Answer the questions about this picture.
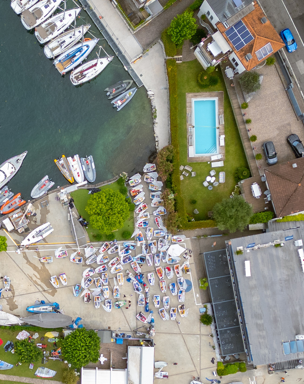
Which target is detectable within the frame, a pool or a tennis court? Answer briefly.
pool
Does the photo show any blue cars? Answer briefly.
Yes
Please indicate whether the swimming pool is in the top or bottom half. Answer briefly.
top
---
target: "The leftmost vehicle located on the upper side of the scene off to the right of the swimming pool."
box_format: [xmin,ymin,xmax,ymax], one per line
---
[262,139,278,166]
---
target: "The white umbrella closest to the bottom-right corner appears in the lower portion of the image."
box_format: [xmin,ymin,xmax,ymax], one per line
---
[168,245,186,257]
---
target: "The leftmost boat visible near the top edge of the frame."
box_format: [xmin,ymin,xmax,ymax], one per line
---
[8,0,37,20]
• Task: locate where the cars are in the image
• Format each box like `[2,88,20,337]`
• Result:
[287,133,304,158]
[279,27,297,54]
[262,139,278,166]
